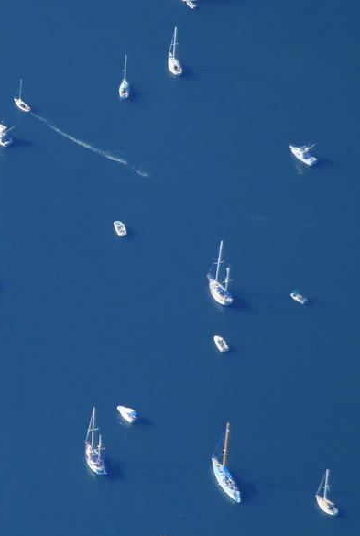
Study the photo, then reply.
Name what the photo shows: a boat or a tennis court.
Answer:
boat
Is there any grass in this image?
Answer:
No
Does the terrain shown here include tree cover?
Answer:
No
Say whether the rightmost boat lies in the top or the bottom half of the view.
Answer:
bottom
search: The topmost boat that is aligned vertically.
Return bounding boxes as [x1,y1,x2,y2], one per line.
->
[168,26,183,74]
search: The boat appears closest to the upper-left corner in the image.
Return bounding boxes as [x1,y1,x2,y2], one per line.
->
[14,81,31,112]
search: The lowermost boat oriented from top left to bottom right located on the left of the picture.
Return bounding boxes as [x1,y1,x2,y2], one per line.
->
[117,406,136,425]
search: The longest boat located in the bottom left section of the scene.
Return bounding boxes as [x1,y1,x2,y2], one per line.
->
[85,408,107,476]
